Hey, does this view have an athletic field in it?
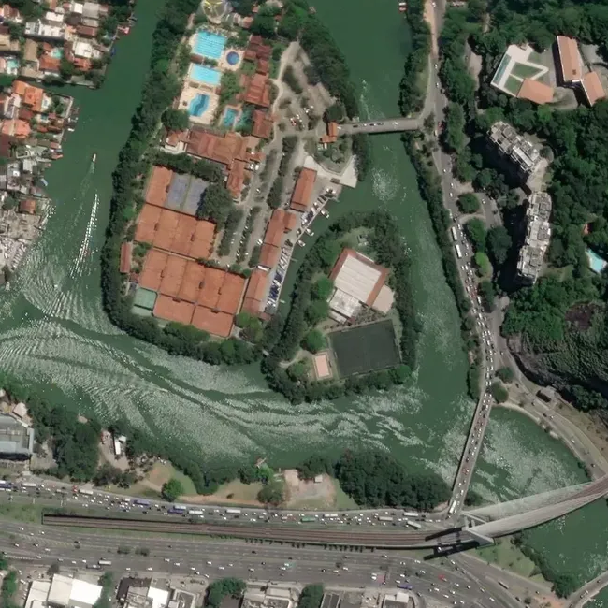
Yes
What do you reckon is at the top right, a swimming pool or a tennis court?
swimming pool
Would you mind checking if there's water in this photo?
Yes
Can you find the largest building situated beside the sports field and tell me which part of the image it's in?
center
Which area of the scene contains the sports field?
center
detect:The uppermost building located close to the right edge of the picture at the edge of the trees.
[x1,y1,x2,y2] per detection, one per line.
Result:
[557,35,583,83]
